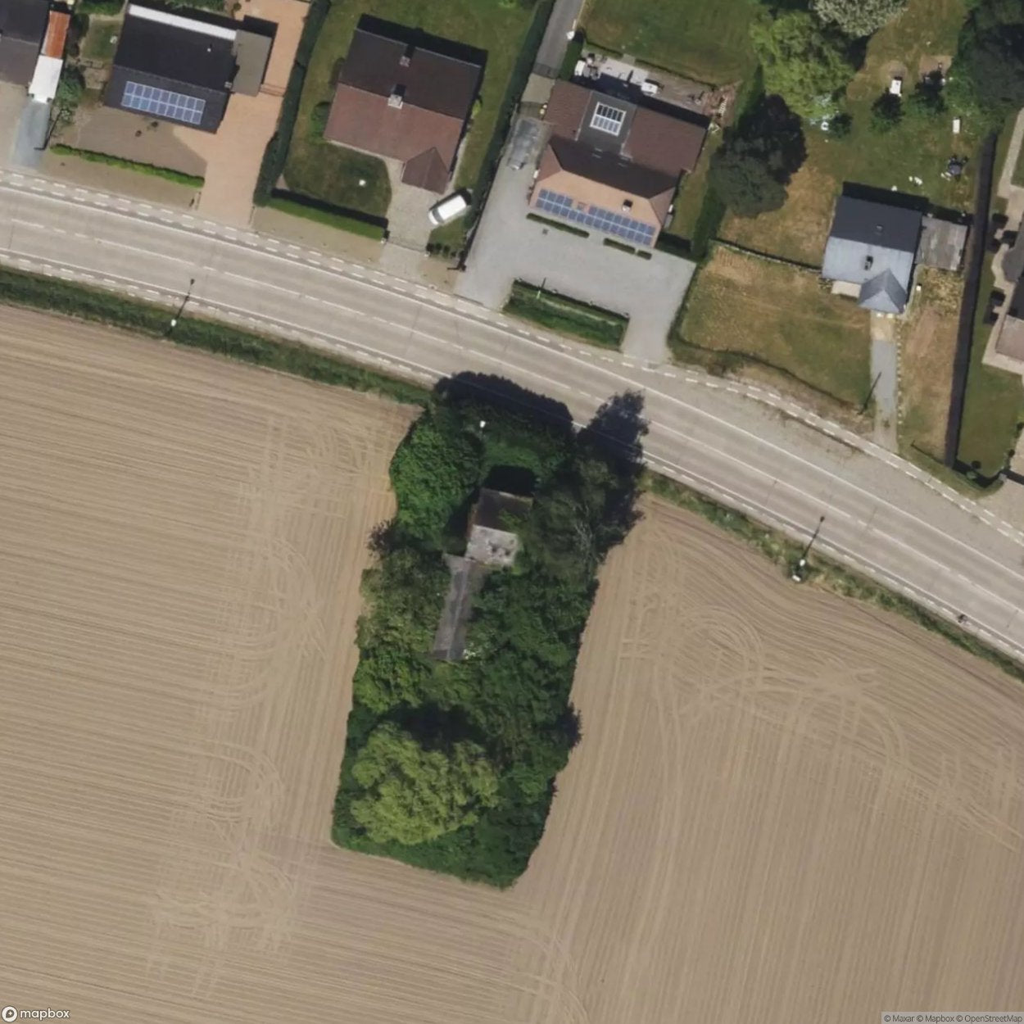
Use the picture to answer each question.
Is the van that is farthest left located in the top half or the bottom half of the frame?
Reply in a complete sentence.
The van that is farthest left is in the top half of the image.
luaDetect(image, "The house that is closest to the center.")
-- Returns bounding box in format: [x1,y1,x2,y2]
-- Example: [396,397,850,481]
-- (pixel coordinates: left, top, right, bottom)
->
[463,489,533,572]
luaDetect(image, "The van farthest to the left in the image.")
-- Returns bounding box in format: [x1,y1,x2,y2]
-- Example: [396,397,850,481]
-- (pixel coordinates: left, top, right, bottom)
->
[428,191,470,224]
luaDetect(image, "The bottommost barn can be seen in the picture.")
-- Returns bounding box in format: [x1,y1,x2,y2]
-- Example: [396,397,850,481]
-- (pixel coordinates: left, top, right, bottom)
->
[435,554,491,662]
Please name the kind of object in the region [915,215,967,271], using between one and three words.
shed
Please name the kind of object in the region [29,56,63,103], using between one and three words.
shed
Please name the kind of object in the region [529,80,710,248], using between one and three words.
house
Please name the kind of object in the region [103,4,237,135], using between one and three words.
house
